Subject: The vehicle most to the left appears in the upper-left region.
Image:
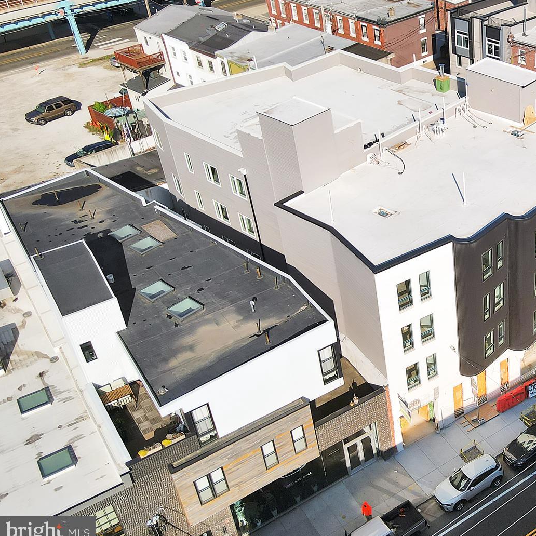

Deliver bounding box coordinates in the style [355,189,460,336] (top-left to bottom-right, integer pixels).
[21,95,77,126]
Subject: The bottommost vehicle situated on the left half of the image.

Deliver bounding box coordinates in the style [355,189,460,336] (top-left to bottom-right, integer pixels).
[60,134,118,168]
